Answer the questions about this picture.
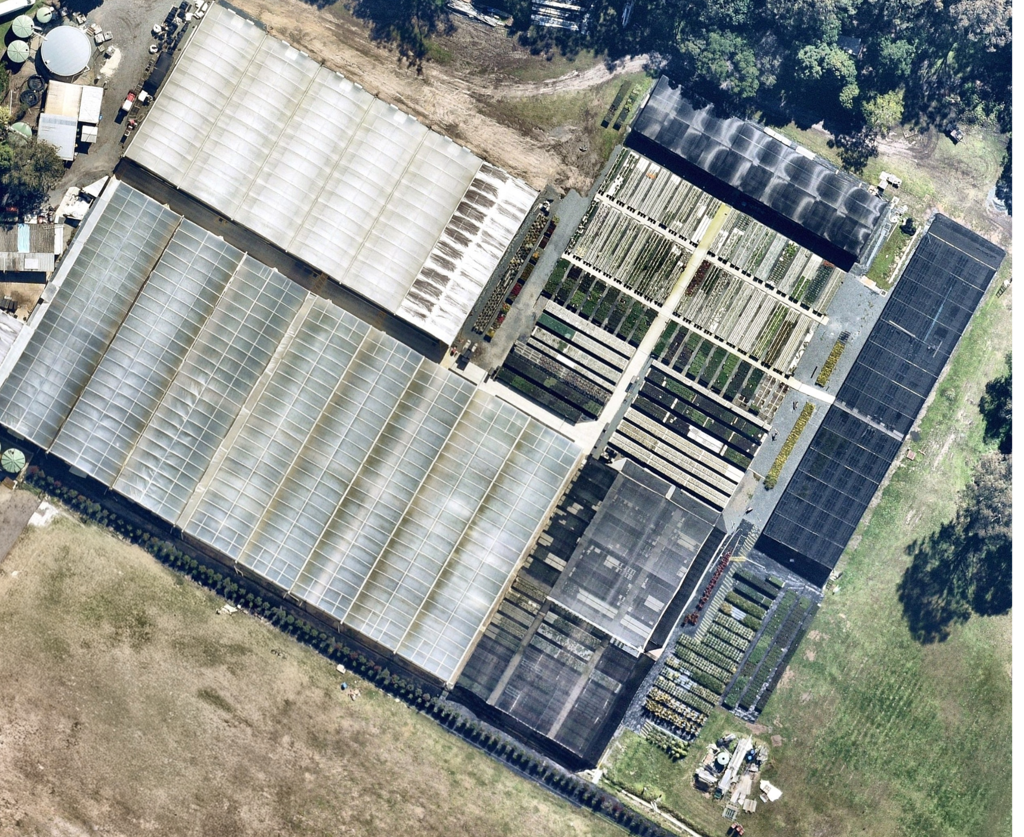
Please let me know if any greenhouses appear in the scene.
Yes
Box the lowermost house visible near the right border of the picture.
[762,221,1002,573]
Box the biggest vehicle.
[119,90,138,114]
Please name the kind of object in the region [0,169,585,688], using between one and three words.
greenhouse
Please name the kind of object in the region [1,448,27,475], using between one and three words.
water tank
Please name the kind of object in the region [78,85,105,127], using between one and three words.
shed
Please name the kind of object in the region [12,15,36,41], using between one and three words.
water tank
